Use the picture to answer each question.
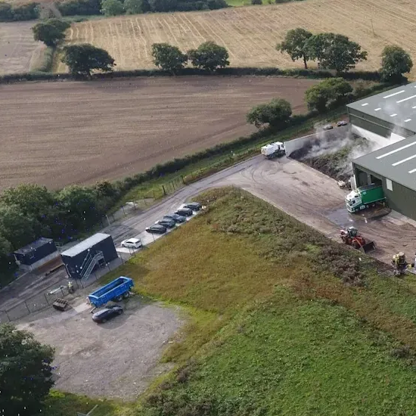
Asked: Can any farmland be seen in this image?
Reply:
Yes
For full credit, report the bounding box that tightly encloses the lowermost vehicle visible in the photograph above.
[92,303,125,321]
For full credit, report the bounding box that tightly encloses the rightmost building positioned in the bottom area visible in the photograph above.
[58,233,117,278]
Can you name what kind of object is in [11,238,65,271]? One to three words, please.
building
